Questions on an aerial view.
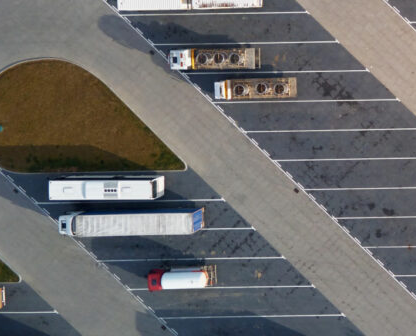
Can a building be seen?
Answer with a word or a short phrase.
No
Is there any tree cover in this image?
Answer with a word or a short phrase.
No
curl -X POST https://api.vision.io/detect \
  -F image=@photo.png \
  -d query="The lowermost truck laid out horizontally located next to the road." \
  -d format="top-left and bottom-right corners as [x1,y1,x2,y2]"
[147,263,221,292]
